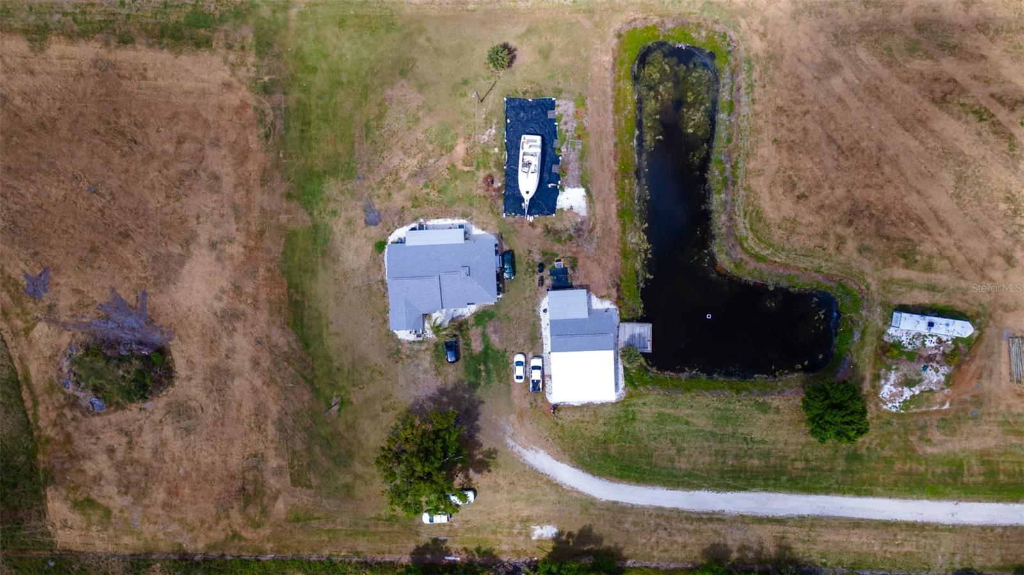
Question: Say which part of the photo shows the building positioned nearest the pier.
center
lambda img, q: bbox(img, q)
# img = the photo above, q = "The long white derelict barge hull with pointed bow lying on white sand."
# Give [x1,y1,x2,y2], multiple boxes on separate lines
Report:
[892,311,974,337]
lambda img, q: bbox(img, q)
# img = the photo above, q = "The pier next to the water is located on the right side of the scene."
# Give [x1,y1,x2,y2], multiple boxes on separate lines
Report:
[618,322,652,353]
